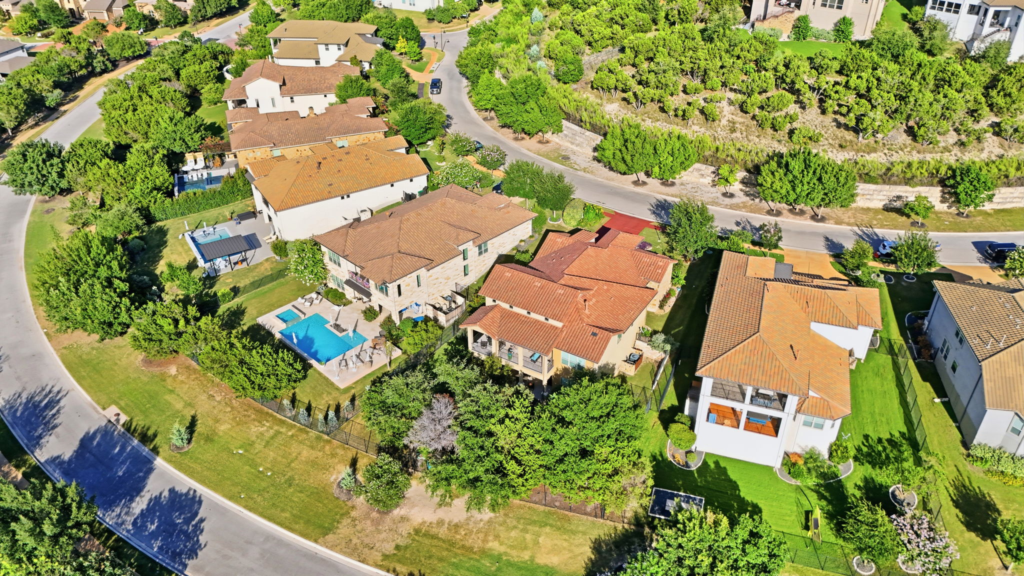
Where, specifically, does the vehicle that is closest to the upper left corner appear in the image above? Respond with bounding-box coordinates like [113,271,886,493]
[429,79,443,93]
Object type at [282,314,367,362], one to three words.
swimming pool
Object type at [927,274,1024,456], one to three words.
house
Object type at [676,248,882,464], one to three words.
house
